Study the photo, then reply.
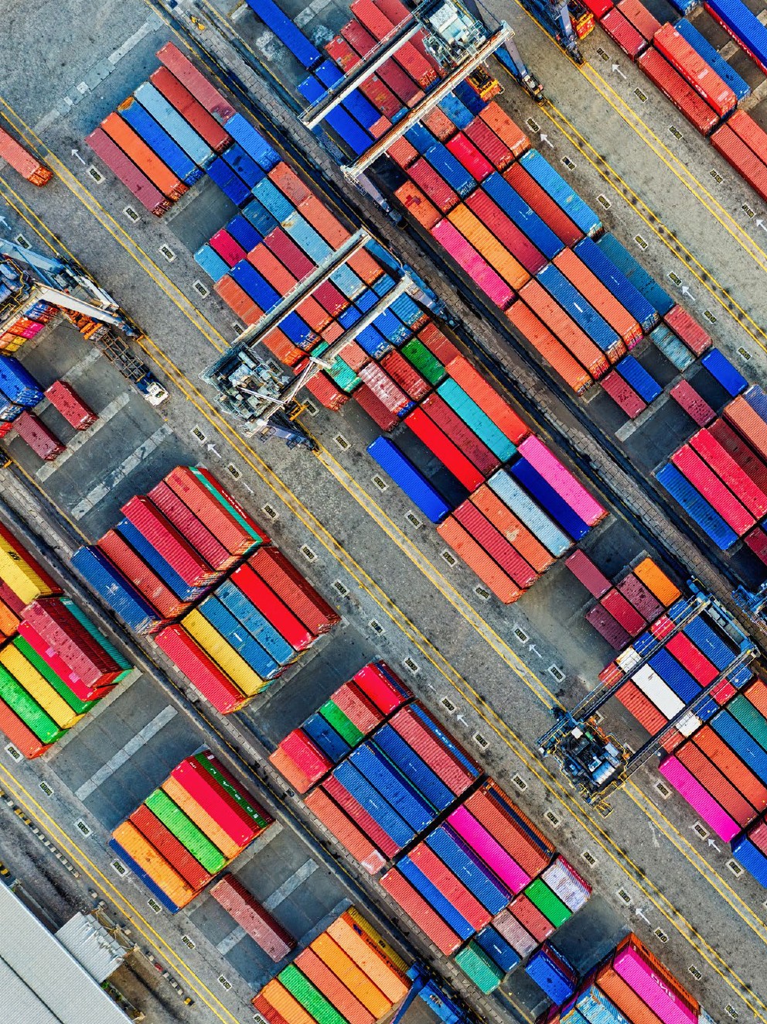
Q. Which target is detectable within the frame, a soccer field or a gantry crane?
gantry crane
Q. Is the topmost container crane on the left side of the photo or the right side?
right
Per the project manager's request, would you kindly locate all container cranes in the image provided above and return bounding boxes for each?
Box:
[195,220,459,460]
[381,967,480,1024]
[522,0,588,65]
[292,0,547,232]
[525,579,766,834]
[0,232,143,349]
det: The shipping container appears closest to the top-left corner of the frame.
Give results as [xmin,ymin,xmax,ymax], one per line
[0,114,52,184]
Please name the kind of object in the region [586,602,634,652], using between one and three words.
shipping container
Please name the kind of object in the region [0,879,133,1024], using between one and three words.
warehouse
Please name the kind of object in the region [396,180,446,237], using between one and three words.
shipping container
